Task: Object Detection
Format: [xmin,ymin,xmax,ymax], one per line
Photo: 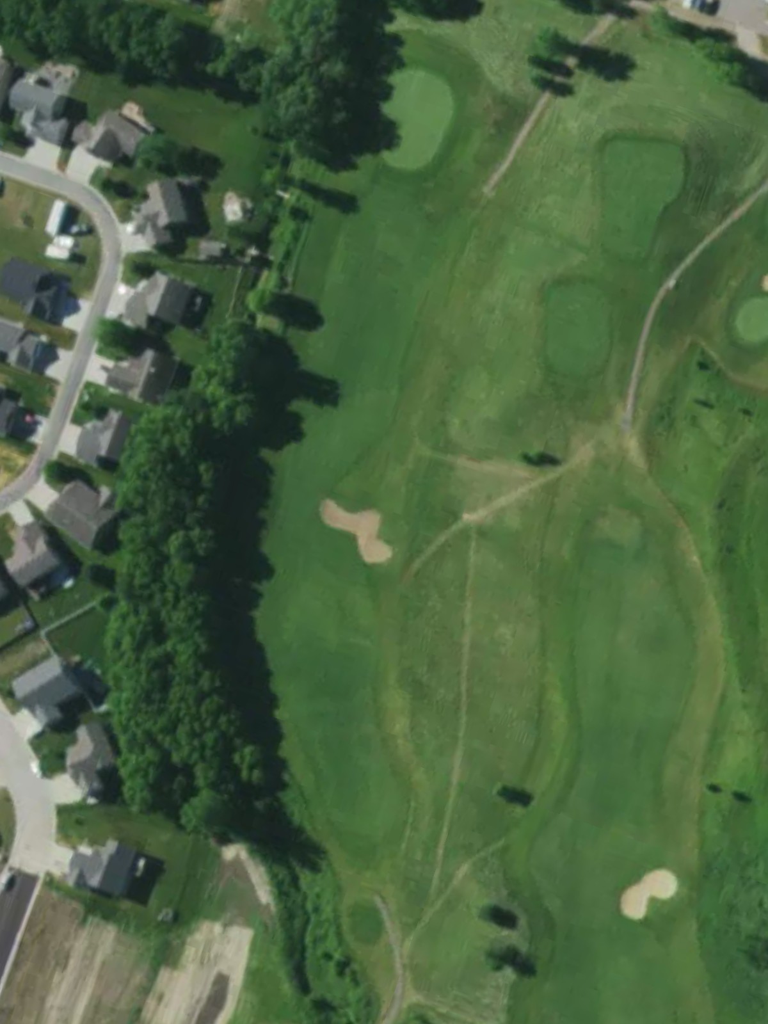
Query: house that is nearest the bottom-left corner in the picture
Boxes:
[64,837,137,900]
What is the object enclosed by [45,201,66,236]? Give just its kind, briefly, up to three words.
vehicle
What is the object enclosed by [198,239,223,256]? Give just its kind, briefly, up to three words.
shed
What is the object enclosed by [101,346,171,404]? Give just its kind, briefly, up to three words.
house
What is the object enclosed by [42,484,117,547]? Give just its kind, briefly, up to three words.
house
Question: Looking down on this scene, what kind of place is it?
golf course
